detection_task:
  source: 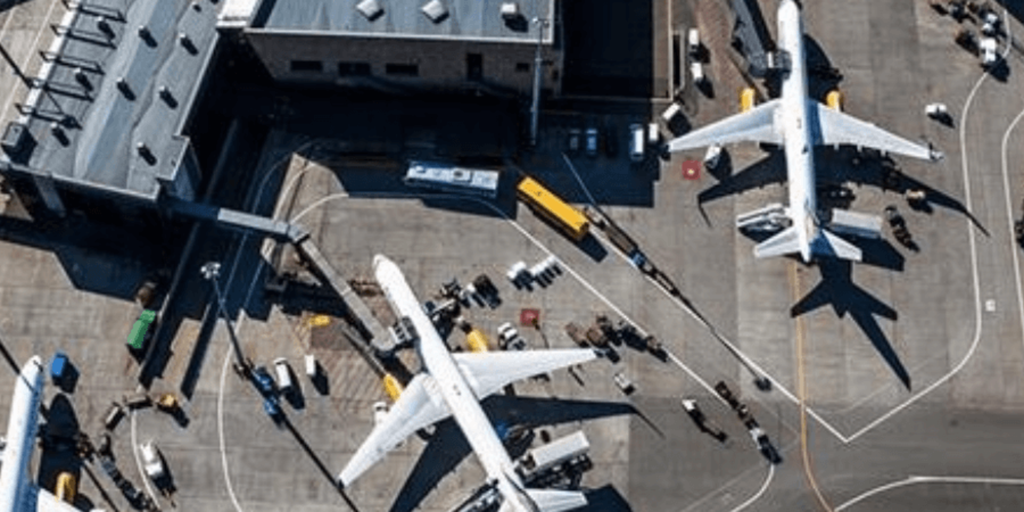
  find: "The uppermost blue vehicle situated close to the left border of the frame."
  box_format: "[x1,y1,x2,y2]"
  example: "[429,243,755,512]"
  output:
[50,353,75,387]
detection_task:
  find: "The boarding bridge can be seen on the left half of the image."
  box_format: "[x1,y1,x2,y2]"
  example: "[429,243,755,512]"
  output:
[165,200,418,369]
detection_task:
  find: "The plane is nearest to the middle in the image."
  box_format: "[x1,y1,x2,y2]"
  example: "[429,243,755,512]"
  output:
[336,254,610,512]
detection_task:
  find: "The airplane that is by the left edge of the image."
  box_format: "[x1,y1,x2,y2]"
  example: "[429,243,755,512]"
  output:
[0,357,77,512]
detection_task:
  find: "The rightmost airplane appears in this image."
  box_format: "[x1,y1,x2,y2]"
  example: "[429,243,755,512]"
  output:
[665,0,946,265]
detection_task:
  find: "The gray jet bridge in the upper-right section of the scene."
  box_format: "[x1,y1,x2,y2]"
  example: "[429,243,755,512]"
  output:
[726,0,795,89]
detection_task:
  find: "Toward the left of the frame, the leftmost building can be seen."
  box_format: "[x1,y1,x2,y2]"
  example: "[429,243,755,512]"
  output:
[0,0,233,239]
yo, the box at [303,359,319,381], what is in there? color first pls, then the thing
white vehicle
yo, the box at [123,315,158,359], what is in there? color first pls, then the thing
green truck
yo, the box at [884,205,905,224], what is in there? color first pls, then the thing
gray work vehicle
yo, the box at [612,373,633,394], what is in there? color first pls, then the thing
gray car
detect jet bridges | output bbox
[165,200,418,369]
[726,0,795,89]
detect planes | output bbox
[665,0,946,265]
[0,357,77,512]
[336,254,610,512]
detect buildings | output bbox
[245,0,557,98]
[0,0,233,239]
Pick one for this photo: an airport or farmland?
airport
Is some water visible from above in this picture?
No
